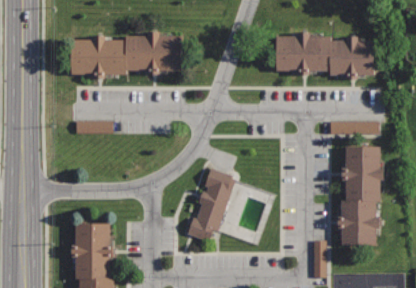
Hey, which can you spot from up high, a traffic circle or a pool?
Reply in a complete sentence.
This aerial view contains a pool.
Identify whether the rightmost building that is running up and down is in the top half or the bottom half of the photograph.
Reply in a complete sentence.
The rightmost building that is running up and down sits in the bottom half of the picture.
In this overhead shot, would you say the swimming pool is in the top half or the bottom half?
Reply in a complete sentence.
It is in the bottom half that the swimming pool appears.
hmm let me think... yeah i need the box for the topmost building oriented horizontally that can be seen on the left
[71,33,182,78]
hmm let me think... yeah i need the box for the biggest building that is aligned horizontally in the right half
[276,33,374,80]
